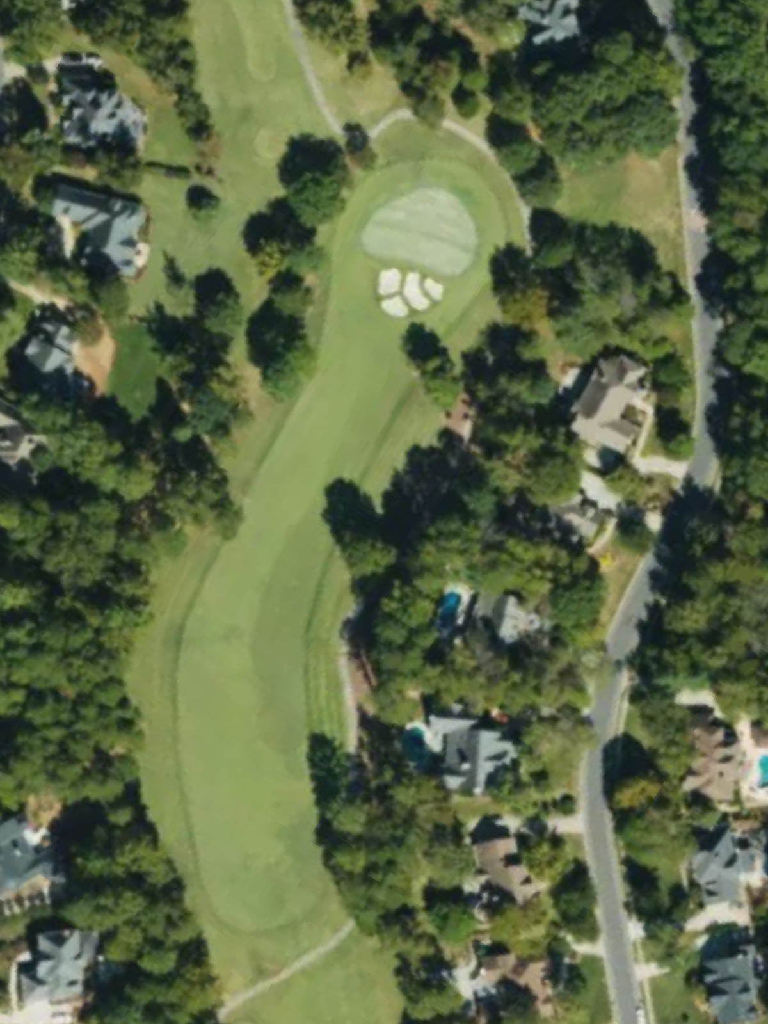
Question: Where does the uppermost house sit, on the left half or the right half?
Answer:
right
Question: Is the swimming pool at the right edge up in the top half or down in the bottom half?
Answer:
bottom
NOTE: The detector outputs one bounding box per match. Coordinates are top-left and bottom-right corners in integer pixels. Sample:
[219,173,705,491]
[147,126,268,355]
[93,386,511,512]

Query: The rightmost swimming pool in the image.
[734,715,768,810]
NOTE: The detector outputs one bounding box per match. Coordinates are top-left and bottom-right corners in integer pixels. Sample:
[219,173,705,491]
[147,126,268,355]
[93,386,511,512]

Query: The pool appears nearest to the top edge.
[438,582,474,633]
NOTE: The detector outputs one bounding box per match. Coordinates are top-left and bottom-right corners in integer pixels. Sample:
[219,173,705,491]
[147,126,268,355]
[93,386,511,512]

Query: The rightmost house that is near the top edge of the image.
[518,0,582,47]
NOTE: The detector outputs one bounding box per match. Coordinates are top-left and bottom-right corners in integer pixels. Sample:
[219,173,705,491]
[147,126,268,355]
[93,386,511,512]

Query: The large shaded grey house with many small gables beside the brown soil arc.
[57,74,145,148]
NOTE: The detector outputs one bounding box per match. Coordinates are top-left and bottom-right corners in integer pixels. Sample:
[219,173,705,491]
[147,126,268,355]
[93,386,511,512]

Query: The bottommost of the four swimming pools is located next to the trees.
[472,937,488,959]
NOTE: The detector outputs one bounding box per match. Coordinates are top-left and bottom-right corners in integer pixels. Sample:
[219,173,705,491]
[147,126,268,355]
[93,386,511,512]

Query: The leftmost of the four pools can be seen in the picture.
[398,722,443,772]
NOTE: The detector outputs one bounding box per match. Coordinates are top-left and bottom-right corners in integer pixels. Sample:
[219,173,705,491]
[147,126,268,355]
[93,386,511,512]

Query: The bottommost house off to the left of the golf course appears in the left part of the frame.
[17,930,96,1005]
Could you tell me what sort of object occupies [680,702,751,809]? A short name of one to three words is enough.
house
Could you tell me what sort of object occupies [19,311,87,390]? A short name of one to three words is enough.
house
